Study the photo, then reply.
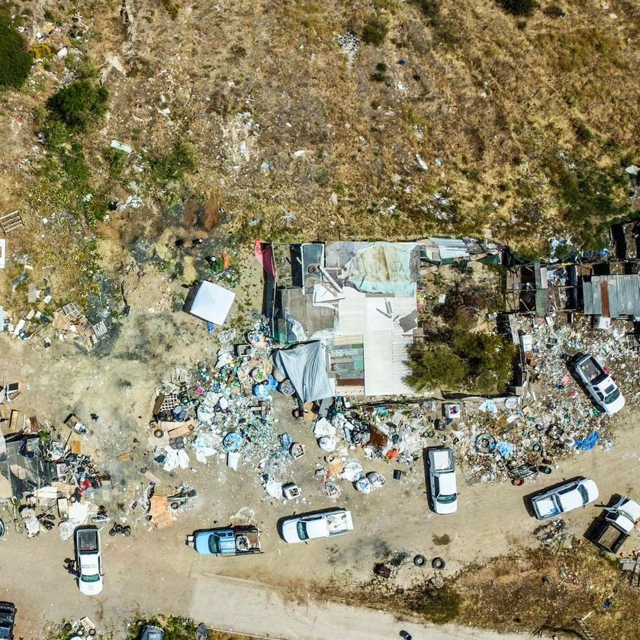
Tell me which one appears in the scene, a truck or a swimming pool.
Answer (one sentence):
Visible in the photo is a truck.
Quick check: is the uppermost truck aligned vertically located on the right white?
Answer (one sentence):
Yes, the uppermost truck aligned vertically located on the right is indeed white.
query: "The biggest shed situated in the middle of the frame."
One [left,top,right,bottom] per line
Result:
[275,243,421,397]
